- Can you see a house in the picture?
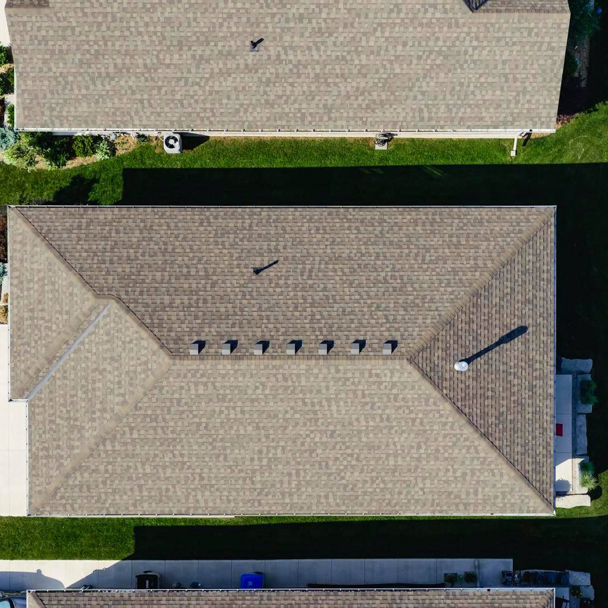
Yes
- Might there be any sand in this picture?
No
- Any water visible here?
No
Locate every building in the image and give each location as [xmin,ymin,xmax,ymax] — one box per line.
[4,0,572,153]
[28,585,556,608]
[10,208,556,515]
